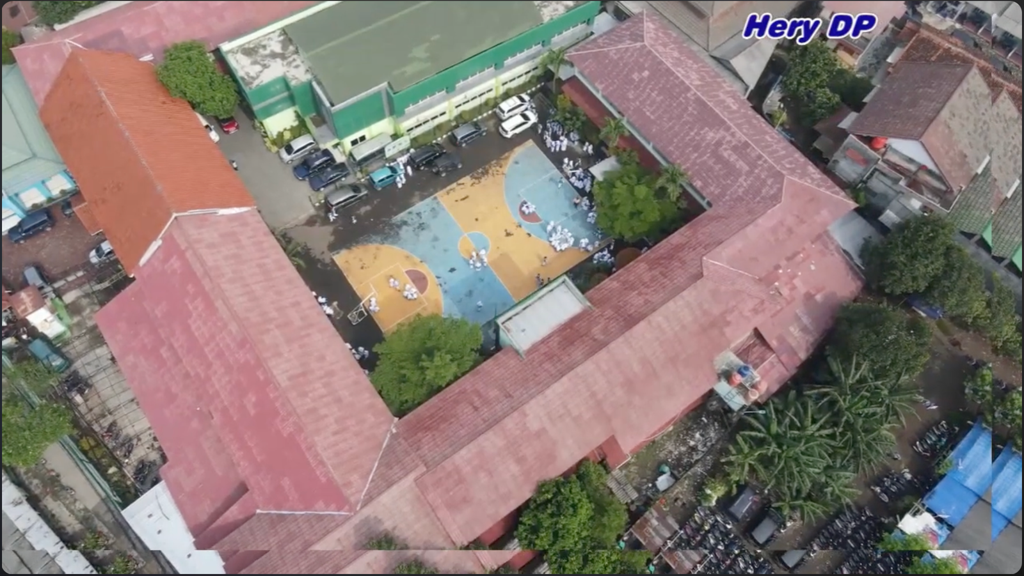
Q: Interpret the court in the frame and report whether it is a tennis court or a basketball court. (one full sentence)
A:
Looking closely, the court is a basketball court.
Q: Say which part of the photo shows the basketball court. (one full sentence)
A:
You can find the basketball court in the center area of the picture.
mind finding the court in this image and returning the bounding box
[330,140,614,339]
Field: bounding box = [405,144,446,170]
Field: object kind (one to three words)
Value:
car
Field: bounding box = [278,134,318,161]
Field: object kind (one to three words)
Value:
car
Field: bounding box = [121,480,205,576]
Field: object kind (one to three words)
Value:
shed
